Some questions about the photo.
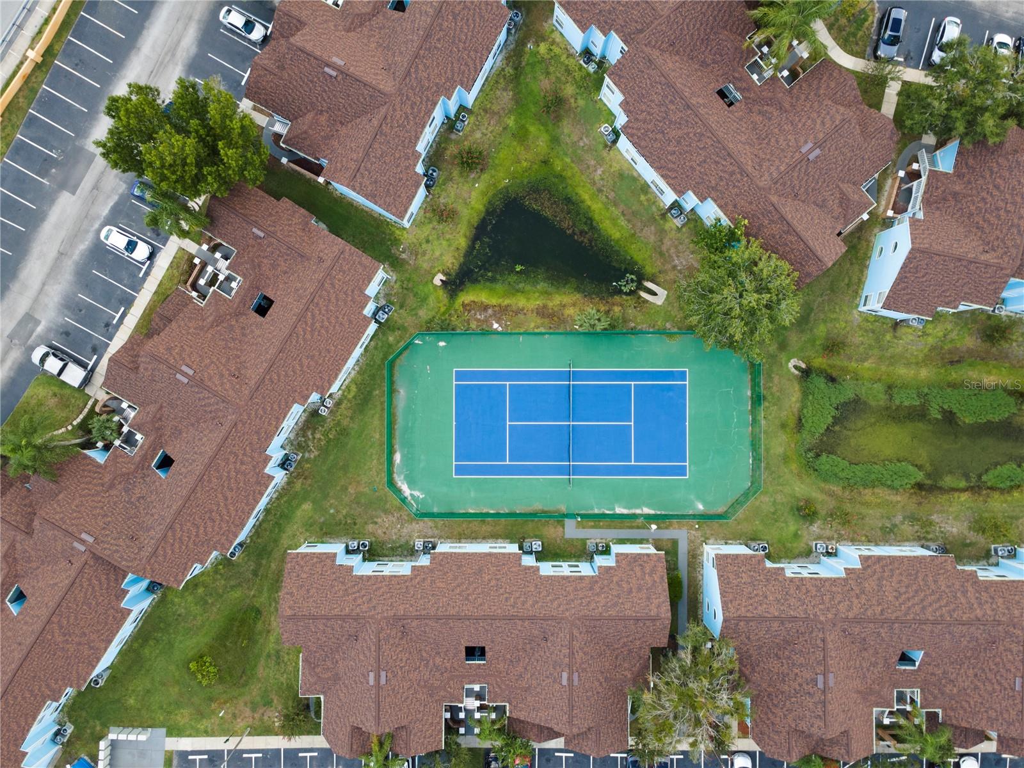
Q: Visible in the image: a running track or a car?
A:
car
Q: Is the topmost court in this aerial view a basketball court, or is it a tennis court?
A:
tennis court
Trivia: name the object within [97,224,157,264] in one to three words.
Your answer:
car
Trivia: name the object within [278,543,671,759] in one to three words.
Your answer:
building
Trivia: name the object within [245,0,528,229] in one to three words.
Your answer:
building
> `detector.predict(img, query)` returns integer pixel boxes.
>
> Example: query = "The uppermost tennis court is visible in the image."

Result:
[391,334,752,514]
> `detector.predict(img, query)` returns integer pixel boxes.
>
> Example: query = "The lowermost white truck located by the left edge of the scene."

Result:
[30,348,96,390]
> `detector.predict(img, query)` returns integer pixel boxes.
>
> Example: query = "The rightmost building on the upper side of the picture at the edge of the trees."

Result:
[861,110,1024,321]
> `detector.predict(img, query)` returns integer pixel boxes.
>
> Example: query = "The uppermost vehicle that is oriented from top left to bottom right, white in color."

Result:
[216,4,269,45]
